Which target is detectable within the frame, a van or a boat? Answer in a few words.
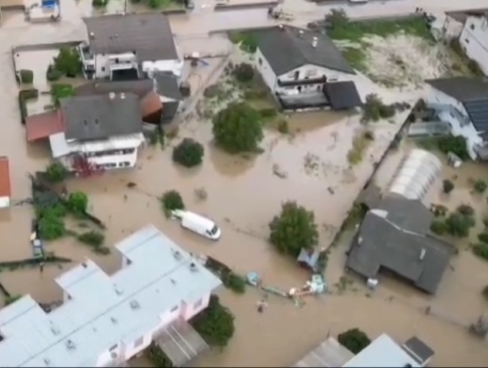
van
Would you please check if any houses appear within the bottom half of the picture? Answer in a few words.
Yes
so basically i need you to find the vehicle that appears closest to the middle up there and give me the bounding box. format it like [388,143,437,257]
[169,204,222,242]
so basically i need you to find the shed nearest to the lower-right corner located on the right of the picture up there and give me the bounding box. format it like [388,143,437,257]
[402,337,434,368]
